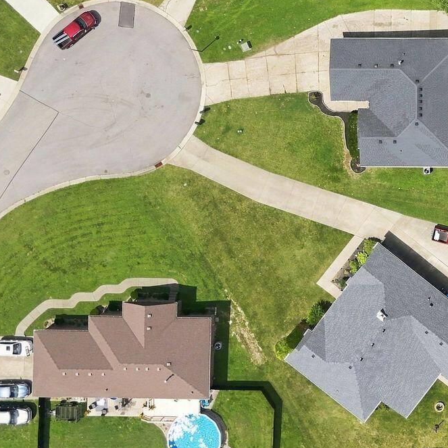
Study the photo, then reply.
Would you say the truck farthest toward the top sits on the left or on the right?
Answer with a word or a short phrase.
left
